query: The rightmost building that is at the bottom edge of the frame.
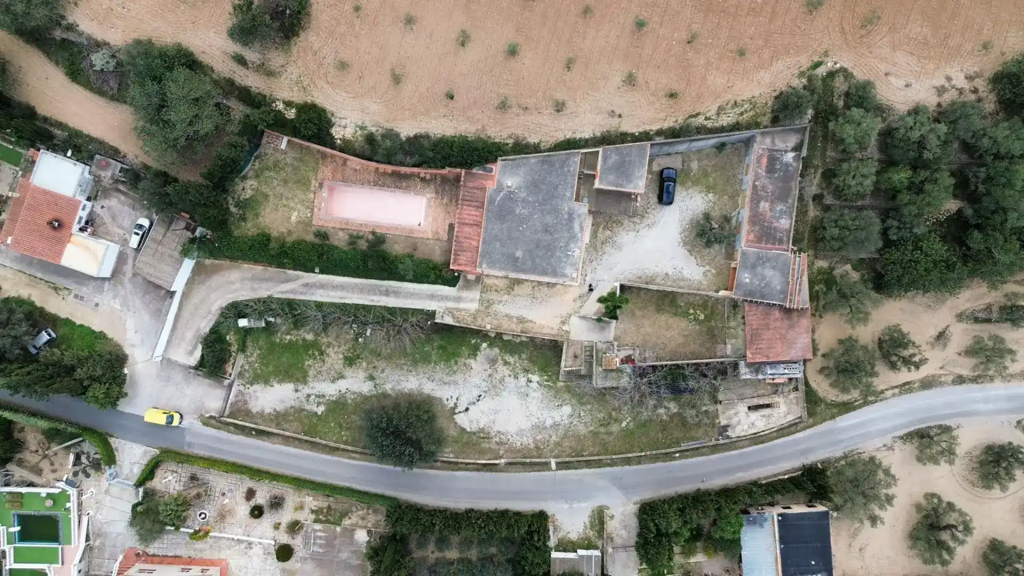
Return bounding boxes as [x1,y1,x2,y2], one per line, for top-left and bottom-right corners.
[771,502,840,576]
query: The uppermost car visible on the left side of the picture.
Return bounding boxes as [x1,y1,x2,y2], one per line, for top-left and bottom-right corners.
[123,214,152,250]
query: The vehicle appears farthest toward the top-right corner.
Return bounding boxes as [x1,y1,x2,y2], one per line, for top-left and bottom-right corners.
[657,166,678,206]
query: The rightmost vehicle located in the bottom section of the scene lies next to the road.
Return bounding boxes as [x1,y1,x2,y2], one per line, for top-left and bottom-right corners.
[141,407,182,429]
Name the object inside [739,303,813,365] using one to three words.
shed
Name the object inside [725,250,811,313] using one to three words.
shed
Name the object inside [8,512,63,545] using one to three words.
swimming pool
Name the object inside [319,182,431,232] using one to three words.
swimming pool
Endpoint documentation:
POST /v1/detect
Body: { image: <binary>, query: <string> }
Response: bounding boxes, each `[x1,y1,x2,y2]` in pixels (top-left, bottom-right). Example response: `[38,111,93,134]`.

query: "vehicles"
[657,166,678,206]
[141,407,182,429]
[123,214,152,250]
[22,326,57,357]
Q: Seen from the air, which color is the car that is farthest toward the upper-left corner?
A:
white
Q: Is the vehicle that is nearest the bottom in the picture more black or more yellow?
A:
yellow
